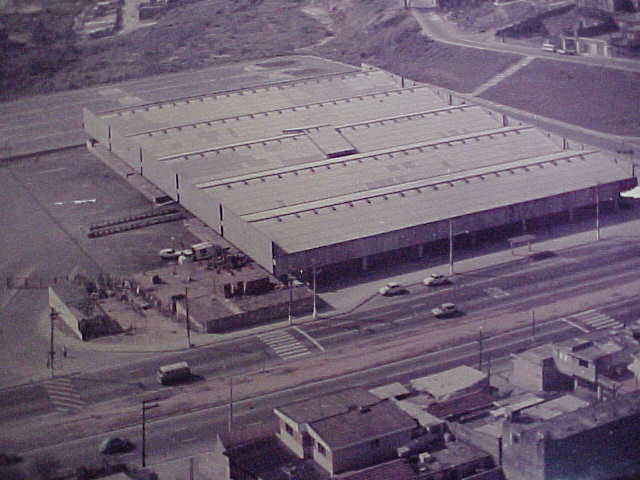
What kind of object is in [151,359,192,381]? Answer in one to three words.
vehicle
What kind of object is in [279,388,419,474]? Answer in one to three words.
house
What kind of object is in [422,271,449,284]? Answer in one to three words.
vehicle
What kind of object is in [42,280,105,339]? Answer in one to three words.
shed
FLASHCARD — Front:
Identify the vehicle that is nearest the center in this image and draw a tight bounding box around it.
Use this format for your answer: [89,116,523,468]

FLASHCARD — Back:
[378,281,406,294]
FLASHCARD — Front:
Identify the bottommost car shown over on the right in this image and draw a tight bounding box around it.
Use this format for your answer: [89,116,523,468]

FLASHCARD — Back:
[430,302,460,317]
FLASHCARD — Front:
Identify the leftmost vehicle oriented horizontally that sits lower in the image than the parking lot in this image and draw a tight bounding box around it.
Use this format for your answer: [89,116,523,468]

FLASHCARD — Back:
[98,437,133,454]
